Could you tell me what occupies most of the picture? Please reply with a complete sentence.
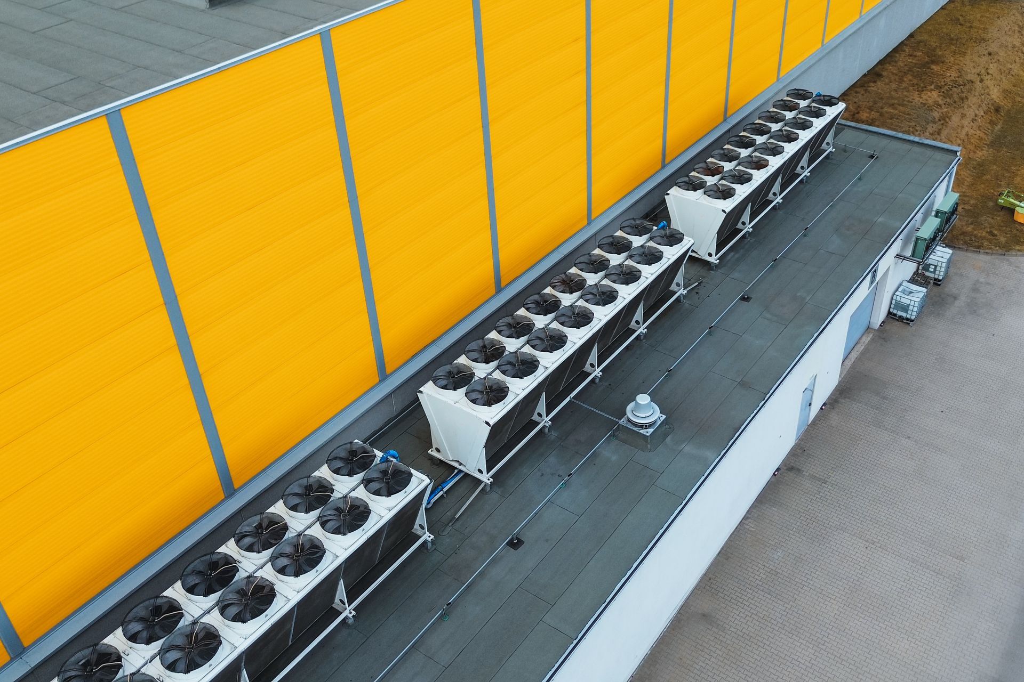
For the most part, this view shows buildings.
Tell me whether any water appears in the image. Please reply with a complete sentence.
No, the picture contains no water.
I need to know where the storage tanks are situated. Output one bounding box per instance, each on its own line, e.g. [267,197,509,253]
[889,282,929,327]
[917,246,955,285]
